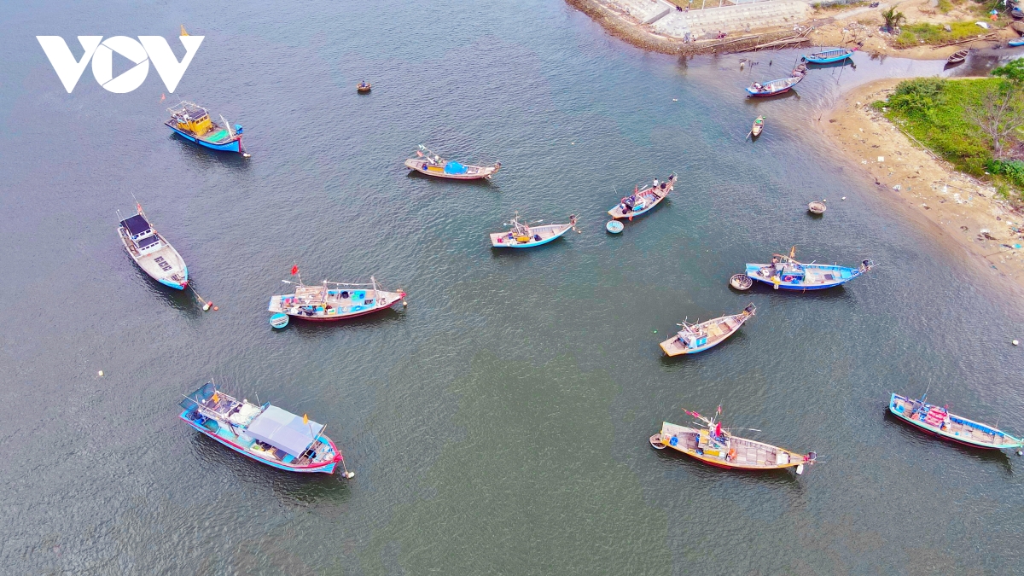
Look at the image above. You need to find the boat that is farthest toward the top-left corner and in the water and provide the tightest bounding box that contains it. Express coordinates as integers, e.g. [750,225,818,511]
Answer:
[160,95,247,153]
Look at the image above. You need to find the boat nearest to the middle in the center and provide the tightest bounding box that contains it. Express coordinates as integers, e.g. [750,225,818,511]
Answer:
[490,209,584,252]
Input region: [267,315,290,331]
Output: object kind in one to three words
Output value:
boat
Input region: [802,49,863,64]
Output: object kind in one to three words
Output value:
boat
